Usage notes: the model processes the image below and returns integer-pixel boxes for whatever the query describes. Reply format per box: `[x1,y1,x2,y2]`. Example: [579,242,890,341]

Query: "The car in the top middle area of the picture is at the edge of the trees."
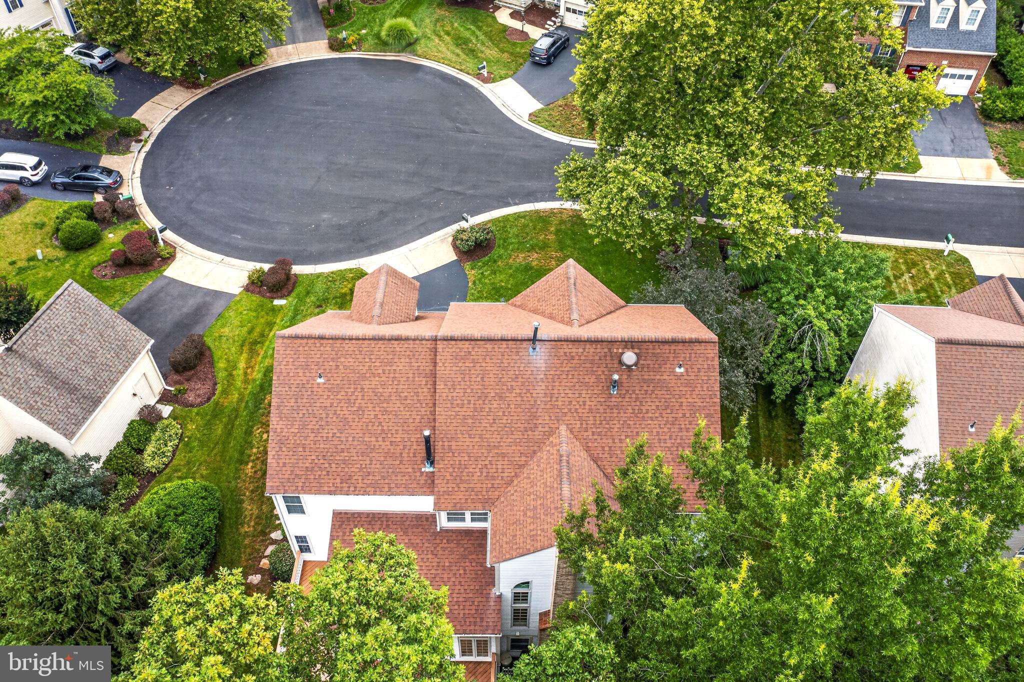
[532,33,567,63]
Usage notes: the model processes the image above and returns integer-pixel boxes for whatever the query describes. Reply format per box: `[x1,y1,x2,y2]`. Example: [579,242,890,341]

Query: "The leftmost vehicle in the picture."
[0,151,46,187]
